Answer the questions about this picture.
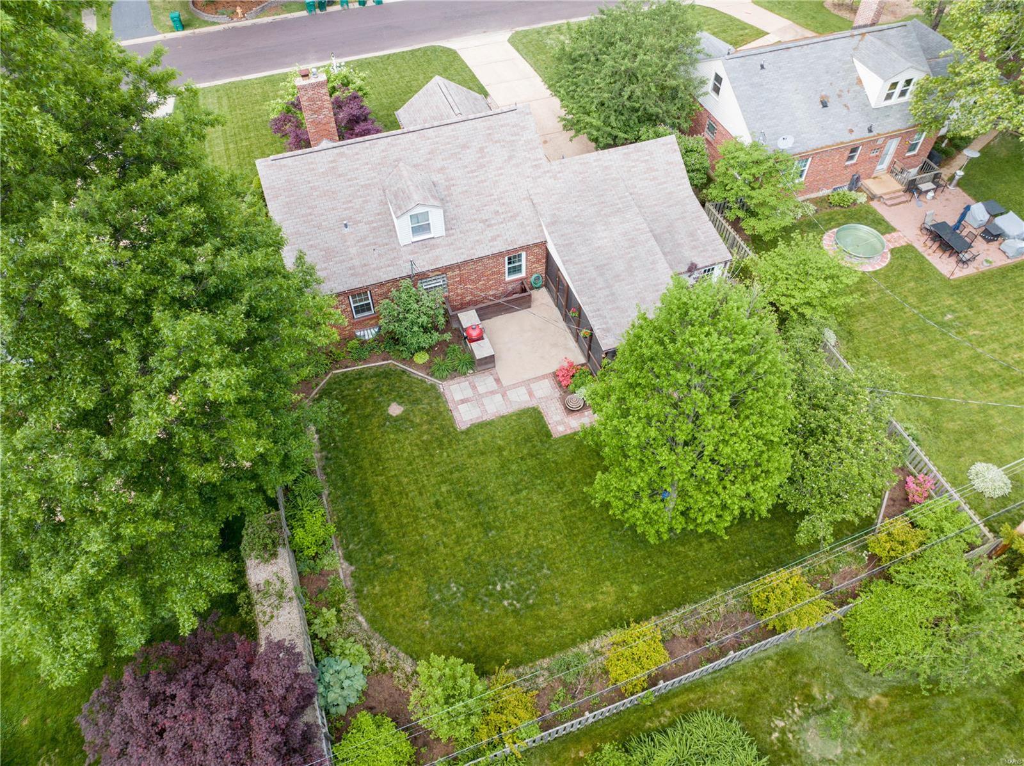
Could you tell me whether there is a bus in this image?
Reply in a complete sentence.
No, I can see no bus in this picture.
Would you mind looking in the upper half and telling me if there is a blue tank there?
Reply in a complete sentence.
No, no blue tank is visible in the upper half.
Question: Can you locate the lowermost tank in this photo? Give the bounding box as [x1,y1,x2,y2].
[837,226,896,271]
